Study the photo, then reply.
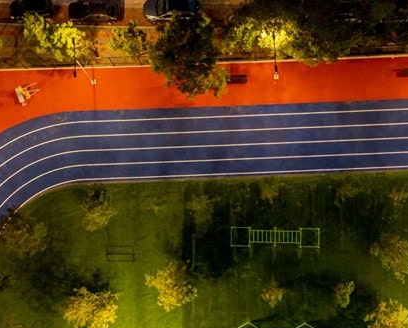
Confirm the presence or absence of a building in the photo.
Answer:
No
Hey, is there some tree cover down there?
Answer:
Yes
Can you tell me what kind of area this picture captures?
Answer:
sports ground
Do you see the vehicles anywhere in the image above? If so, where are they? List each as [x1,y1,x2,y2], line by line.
[144,0,199,22]
[6,0,56,21]
[67,0,123,22]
